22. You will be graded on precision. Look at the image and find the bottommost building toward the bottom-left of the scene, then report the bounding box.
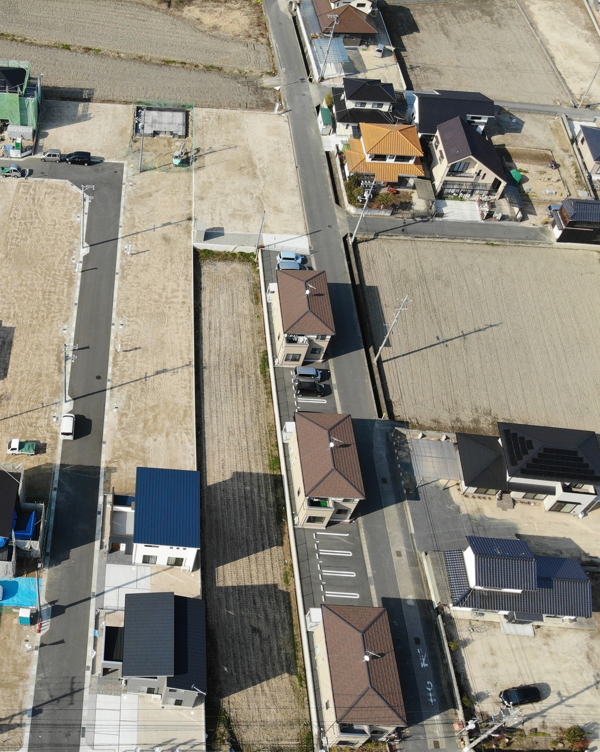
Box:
[99,594,209,708]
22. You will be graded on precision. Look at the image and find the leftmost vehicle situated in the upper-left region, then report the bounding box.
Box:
[0,163,21,177]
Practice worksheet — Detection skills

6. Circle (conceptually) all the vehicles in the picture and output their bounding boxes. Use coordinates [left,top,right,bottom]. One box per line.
[494,683,547,709]
[173,142,186,164]
[296,381,324,398]
[65,149,94,164]
[41,149,62,162]
[543,200,563,214]
[0,163,21,177]
[8,439,36,455]
[371,41,387,58]
[60,409,76,438]
[292,366,323,382]
[276,251,303,263]
[276,259,310,270]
